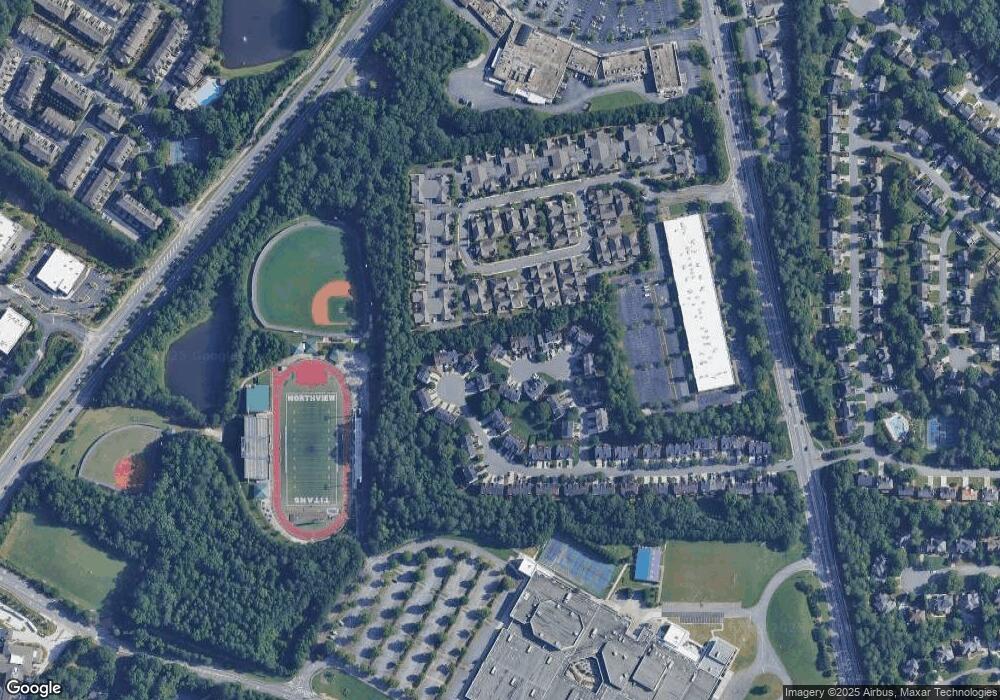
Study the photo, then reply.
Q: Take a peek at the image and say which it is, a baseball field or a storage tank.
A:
baseball field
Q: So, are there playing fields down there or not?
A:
Yes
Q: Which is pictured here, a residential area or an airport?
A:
residential area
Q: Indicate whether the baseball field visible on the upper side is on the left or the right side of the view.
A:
left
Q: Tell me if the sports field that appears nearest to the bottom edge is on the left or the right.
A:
right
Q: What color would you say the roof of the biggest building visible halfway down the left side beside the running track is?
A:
blue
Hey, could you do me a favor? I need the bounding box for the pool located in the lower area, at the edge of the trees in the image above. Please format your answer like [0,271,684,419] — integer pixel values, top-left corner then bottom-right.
[884,413,909,441]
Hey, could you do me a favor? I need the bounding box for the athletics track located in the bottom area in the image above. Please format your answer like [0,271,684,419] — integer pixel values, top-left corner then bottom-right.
[272,360,351,542]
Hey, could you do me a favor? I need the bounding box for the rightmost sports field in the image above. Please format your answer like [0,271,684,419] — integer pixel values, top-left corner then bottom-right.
[667,545,734,599]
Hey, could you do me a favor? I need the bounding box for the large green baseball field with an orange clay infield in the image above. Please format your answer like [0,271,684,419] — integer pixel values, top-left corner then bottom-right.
[252,220,372,336]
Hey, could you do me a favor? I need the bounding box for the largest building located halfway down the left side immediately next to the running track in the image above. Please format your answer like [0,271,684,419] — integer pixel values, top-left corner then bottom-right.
[246,385,269,411]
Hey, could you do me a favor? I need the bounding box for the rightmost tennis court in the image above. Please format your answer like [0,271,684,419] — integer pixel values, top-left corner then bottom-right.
[928,419,961,450]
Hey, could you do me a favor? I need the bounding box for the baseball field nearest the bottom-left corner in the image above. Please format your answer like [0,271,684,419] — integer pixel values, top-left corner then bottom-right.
[79,425,165,498]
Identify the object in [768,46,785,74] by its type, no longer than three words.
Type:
building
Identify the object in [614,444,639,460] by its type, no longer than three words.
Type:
house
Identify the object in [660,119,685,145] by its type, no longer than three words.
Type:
house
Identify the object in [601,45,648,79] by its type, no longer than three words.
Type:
building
